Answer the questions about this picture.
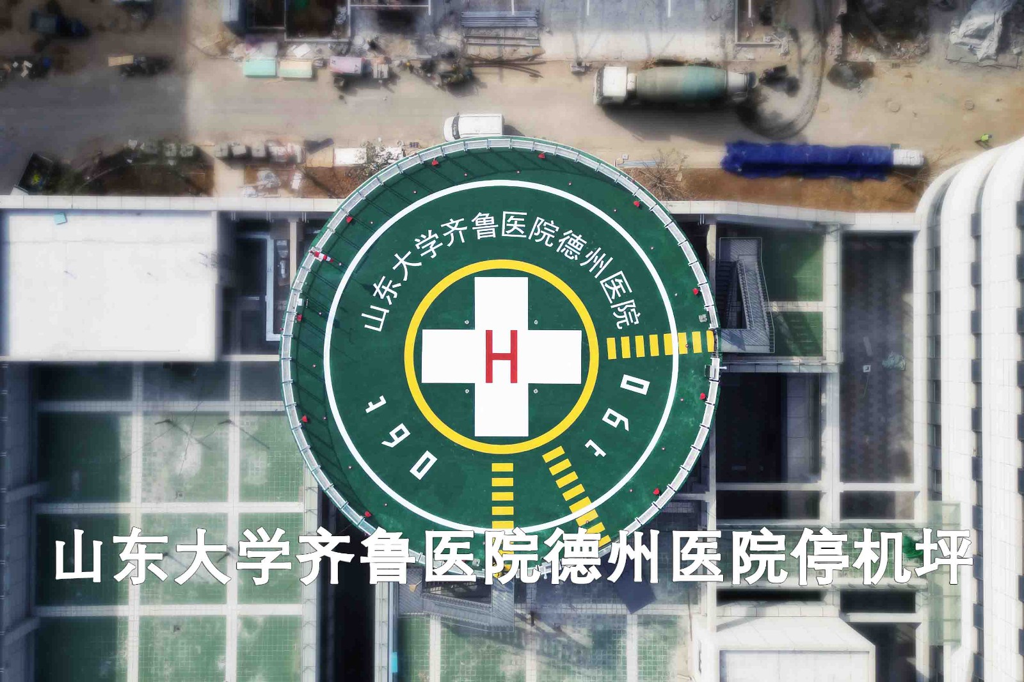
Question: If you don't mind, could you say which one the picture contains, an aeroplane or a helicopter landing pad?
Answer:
helicopter landing pad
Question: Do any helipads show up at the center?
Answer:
Yes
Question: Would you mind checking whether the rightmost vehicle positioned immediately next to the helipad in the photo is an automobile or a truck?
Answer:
truck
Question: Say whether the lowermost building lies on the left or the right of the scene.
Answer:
right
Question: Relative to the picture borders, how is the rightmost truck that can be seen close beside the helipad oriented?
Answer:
horizontally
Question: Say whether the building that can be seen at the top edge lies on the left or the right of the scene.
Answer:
left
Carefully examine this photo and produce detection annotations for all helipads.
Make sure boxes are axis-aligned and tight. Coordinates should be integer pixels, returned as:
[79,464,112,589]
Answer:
[279,135,724,579]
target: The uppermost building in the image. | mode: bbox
[222,0,254,35]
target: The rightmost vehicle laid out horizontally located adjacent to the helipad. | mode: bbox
[593,64,752,114]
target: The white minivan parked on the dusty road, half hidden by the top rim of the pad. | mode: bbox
[444,111,504,141]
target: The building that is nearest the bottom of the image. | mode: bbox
[673,593,875,682]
